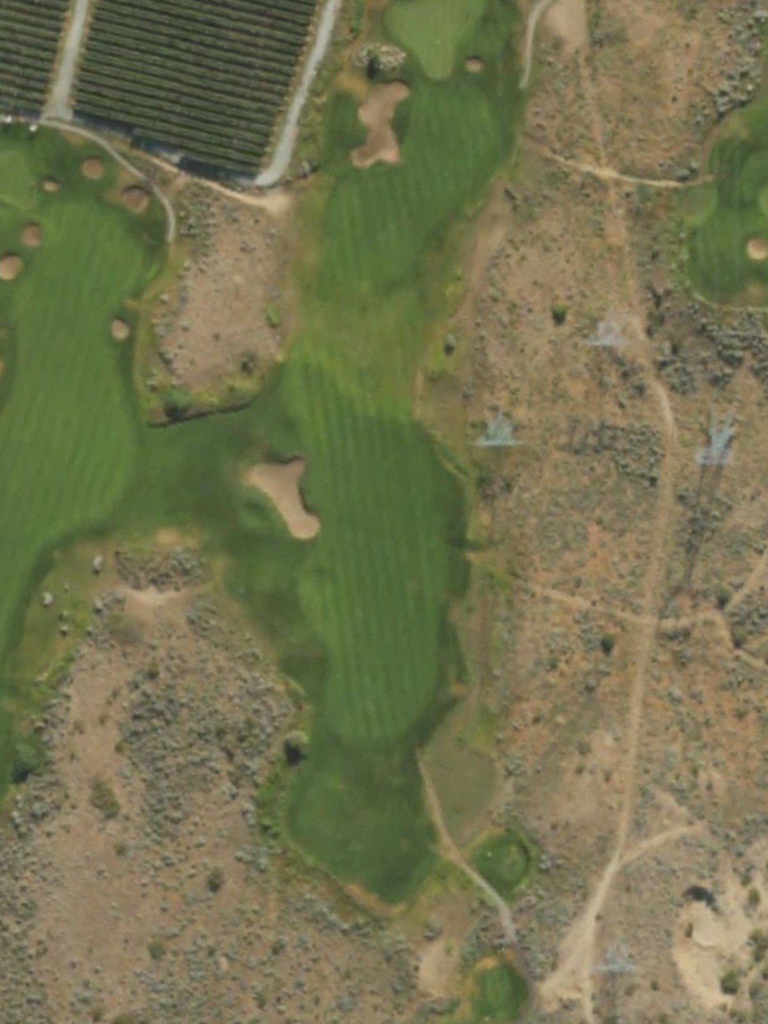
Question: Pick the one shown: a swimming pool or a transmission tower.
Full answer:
It is a transmission tower that can be seen here.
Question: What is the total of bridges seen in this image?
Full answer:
The picture shows no bridges.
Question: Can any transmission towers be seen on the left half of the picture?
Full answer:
No, looking on the left half of the picture, there is no transmission tower.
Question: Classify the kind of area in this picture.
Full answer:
This looks like a golf course.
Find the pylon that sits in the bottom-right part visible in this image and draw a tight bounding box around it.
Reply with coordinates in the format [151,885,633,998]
[594,923,641,979]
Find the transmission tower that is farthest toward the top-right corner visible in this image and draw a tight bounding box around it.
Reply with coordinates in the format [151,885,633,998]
[589,298,637,348]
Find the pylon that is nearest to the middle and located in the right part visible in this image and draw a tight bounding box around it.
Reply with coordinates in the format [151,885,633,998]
[476,399,524,450]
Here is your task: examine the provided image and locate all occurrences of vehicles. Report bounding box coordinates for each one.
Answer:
[29,122,37,130]
[4,114,12,121]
